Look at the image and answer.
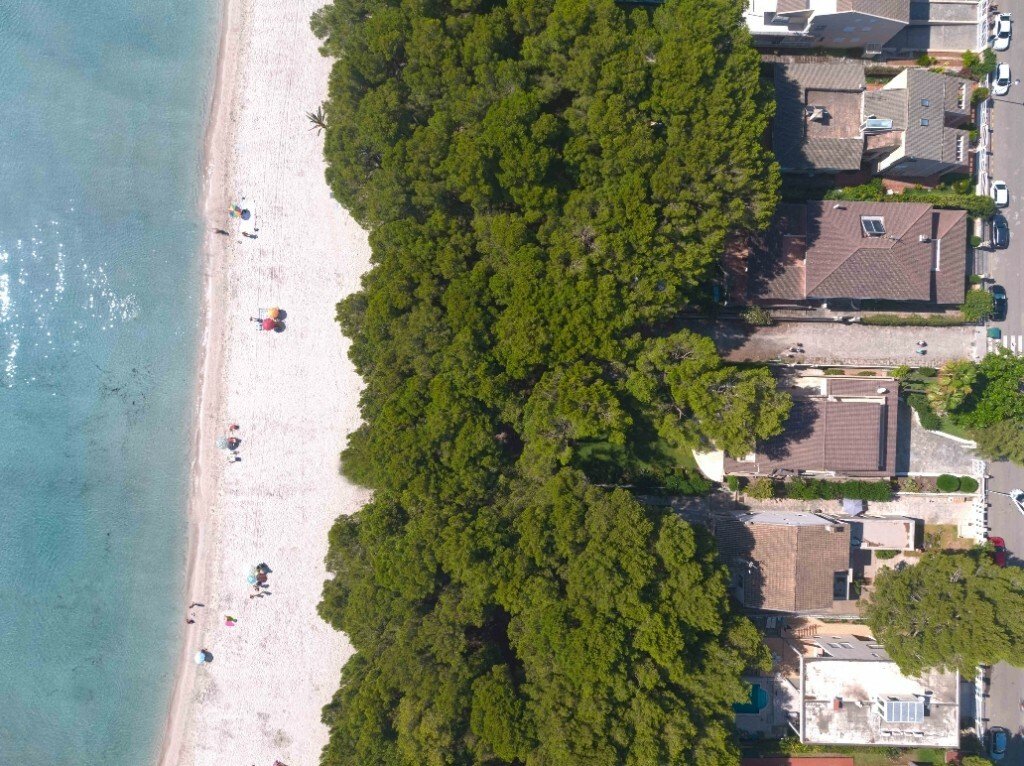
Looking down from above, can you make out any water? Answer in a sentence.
Yes, water shows up in the scene.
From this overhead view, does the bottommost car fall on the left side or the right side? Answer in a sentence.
It is on the right.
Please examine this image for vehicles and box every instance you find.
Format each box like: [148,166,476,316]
[992,60,1014,95]
[988,537,1010,570]
[982,2,1000,10]
[992,179,1013,207]
[990,727,1012,761]
[989,285,1010,320]
[991,213,1013,249]
[988,11,1015,50]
